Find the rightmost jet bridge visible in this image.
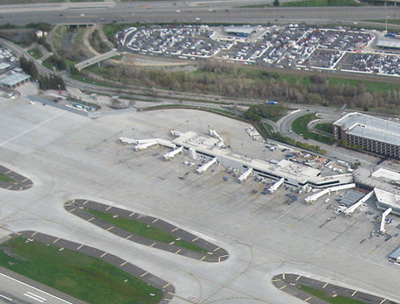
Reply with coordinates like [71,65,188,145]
[379,208,393,232]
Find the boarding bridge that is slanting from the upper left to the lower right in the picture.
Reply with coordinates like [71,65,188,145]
[208,128,225,143]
